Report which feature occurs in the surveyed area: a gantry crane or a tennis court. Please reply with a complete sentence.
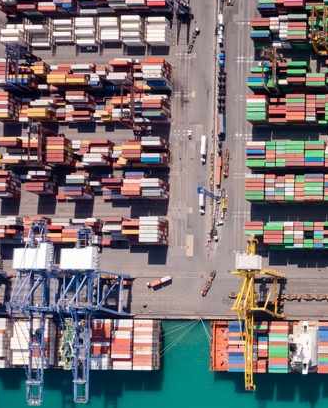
This aerial view contains a gantry crane.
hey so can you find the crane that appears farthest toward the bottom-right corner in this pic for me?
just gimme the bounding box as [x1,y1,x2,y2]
[229,235,287,391]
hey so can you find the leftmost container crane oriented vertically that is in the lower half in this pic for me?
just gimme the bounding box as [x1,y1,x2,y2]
[0,222,83,404]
